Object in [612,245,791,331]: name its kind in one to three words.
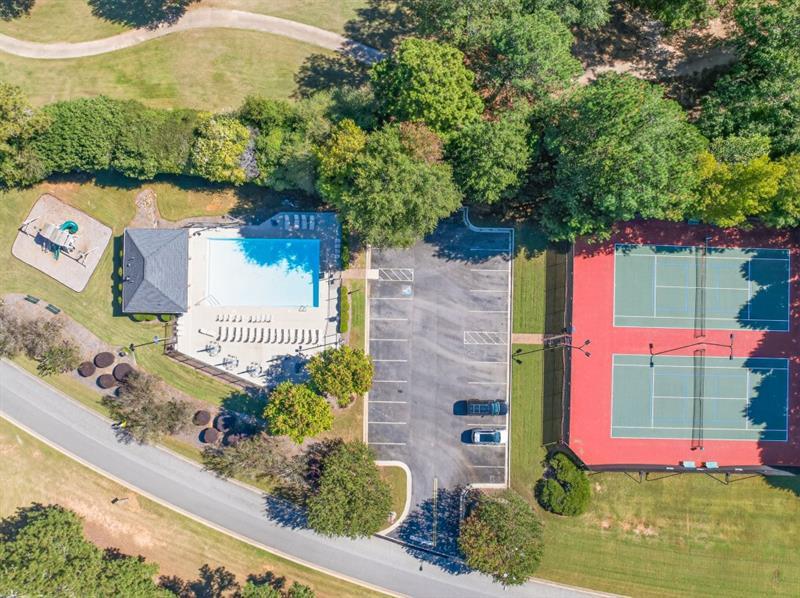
tennis court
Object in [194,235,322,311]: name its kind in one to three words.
swimming pool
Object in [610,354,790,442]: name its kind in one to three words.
tennis court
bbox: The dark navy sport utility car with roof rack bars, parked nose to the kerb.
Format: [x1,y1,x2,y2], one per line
[466,399,505,417]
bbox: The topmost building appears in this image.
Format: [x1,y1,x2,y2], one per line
[123,225,194,313]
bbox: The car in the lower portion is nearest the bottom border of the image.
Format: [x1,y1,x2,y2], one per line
[470,429,507,446]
